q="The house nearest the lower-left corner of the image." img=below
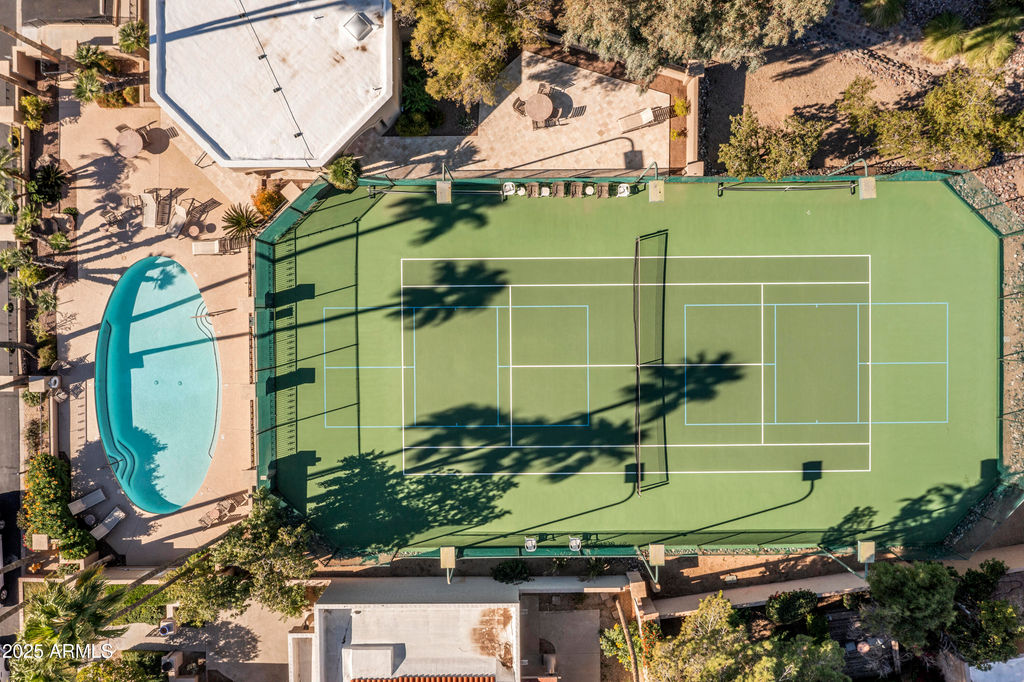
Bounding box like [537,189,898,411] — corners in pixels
[315,577,526,682]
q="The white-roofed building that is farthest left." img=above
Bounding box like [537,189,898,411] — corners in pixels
[149,0,401,179]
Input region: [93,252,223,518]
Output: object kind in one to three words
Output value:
swimming pool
